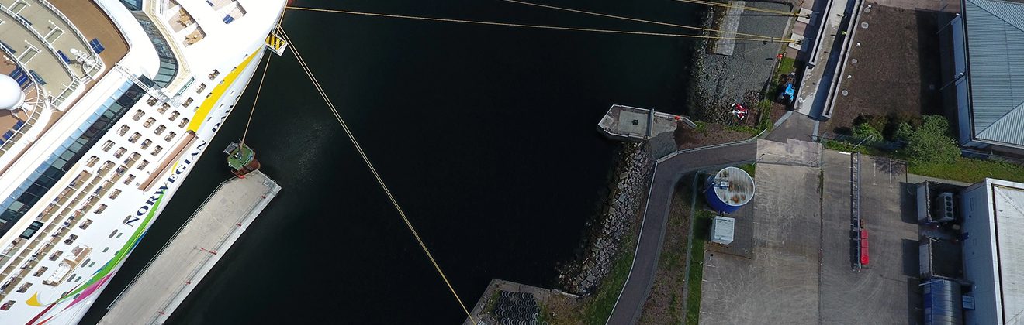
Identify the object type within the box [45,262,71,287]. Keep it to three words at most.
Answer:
boat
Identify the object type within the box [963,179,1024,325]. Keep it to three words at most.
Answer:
building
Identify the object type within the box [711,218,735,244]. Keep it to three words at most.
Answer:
building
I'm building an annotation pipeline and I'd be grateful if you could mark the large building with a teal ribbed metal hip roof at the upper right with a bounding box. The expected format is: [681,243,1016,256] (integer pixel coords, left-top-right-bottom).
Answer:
[945,0,1024,162]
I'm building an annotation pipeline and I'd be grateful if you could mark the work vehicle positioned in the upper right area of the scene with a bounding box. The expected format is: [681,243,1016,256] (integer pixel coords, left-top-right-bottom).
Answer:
[778,71,801,103]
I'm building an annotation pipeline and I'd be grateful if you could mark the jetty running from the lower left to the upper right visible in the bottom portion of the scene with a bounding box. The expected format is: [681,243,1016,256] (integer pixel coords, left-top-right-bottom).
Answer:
[89,169,280,325]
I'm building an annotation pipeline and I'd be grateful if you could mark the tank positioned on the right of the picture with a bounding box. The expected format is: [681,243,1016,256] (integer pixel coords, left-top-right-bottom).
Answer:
[701,167,754,217]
